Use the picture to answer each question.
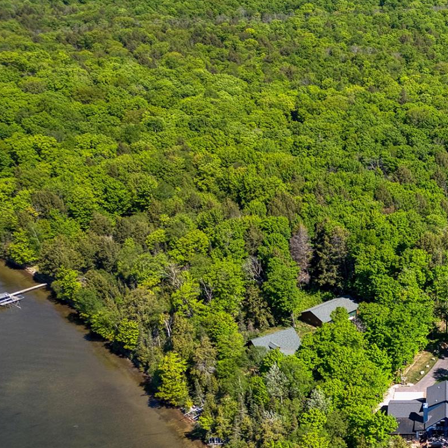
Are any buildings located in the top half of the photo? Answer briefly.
No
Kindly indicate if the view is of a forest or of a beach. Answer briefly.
forest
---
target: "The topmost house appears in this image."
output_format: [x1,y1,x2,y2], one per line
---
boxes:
[302,295,354,329]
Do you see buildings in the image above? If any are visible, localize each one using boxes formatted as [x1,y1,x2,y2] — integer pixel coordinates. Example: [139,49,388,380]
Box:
[388,379,448,442]
[247,326,303,353]
[302,295,354,329]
